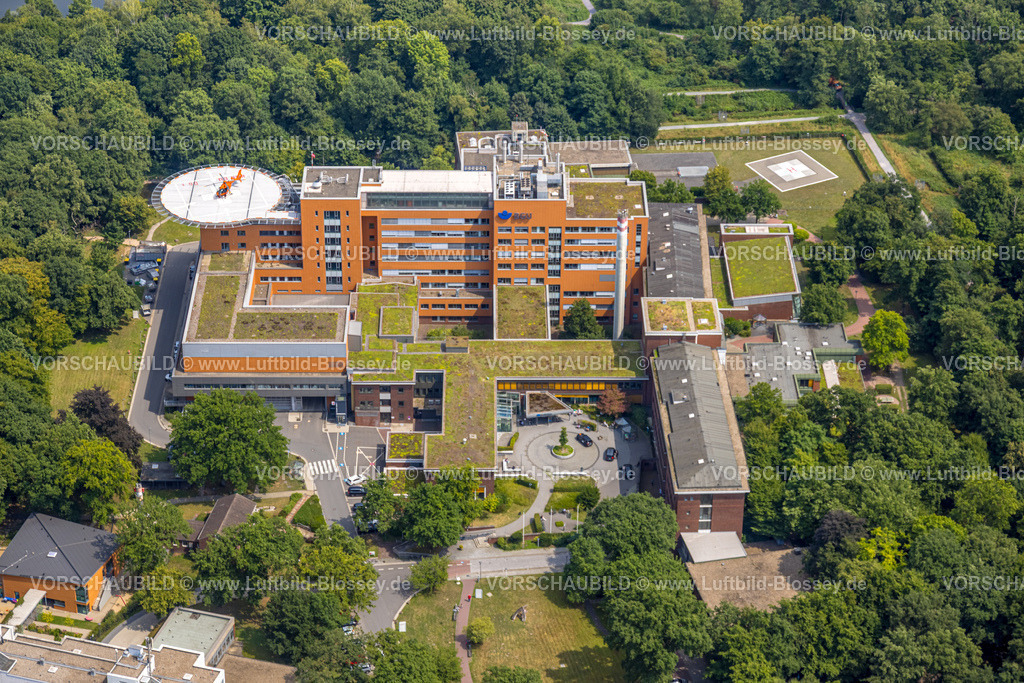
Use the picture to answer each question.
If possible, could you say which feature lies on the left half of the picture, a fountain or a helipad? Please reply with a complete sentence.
The feature located on the left half of the picture is a helipad.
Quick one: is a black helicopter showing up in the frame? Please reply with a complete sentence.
No, I find no black helicopter anywhere in the image.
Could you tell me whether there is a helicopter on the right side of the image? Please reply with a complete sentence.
No, no helicopter appears on the right side of the image.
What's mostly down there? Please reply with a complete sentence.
The scene is dominated by trees.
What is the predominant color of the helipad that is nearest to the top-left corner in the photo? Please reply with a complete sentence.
The color of the helipad that is nearest to the top-left corner is white.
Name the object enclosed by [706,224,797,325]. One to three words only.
building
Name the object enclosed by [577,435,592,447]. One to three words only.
vehicle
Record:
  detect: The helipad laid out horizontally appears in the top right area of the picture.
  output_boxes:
[745,150,839,192]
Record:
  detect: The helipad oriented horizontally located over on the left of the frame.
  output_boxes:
[148,161,303,230]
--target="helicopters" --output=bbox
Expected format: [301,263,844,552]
[204,164,249,197]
